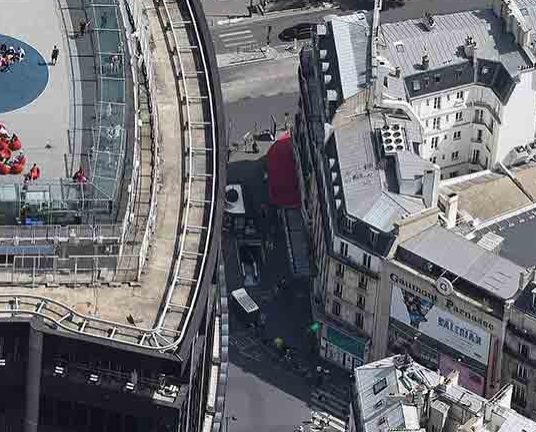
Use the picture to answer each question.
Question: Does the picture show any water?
No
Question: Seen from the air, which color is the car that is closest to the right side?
black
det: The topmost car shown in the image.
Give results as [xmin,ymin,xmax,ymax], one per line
[276,23,307,43]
